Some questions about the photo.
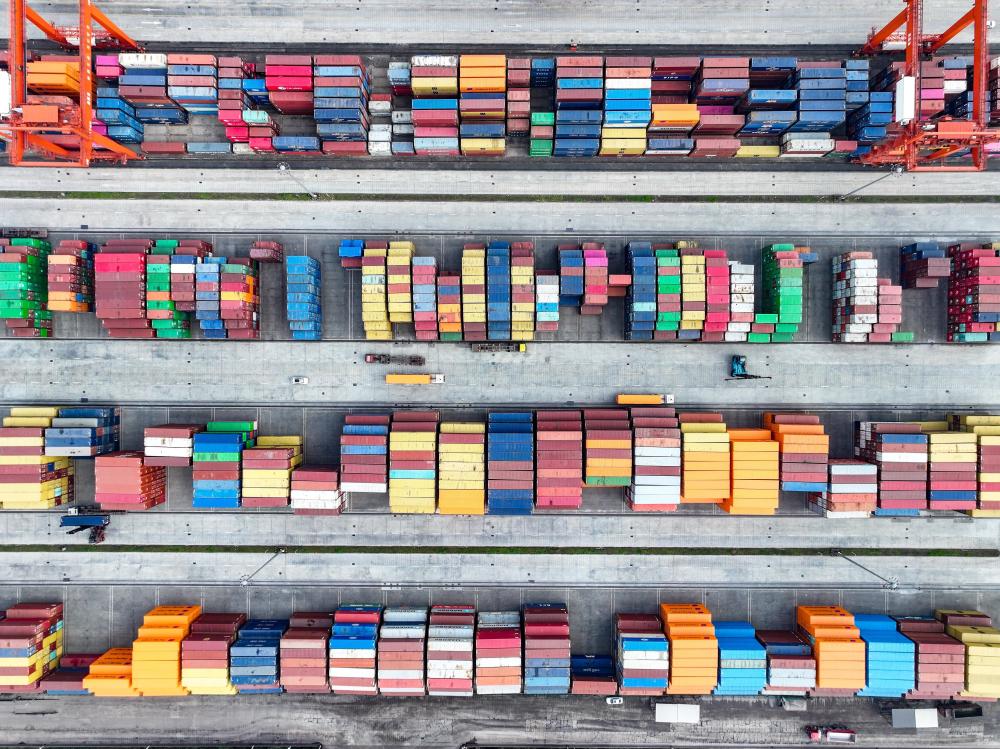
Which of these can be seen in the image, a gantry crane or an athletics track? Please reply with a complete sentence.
The one in the frame is a gantry crane.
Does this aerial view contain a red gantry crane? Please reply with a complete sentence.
Yes, there's a red gantry crane here.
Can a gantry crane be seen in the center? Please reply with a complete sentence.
No, there is no gantry crane in the center.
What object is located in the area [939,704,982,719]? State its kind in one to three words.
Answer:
vehicle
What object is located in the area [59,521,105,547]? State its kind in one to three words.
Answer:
work vehicle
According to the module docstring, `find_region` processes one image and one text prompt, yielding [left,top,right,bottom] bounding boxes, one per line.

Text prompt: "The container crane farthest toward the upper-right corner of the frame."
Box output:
[849,0,1000,168]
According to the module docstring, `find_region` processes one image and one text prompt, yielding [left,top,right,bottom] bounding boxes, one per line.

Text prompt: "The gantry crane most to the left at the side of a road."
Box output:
[0,0,147,163]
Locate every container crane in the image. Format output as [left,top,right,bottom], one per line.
[0,0,147,163]
[849,0,1000,168]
